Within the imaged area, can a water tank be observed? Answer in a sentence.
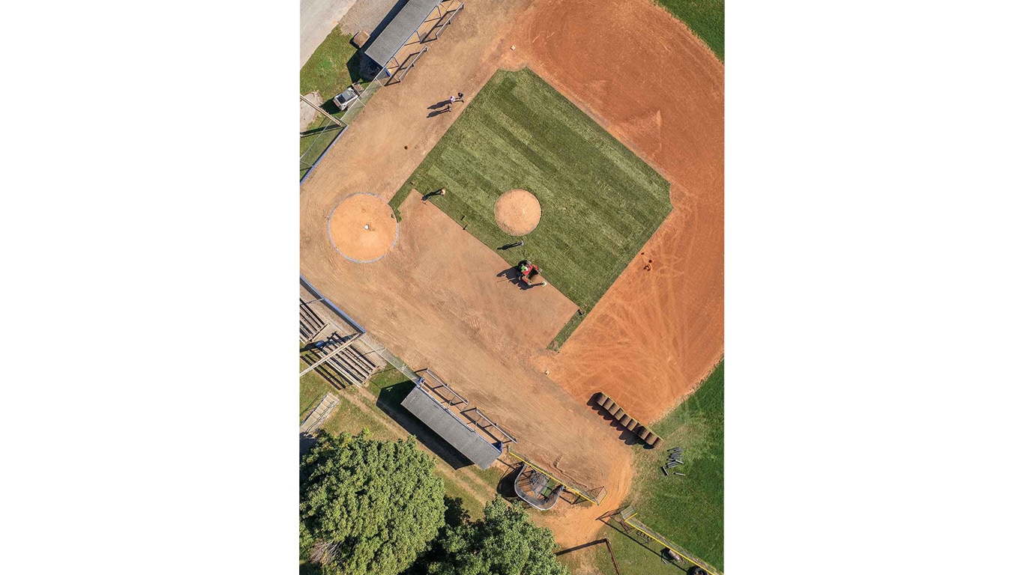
No, there is no water tank in the image.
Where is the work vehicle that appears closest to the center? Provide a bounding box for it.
[516,261,544,288]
